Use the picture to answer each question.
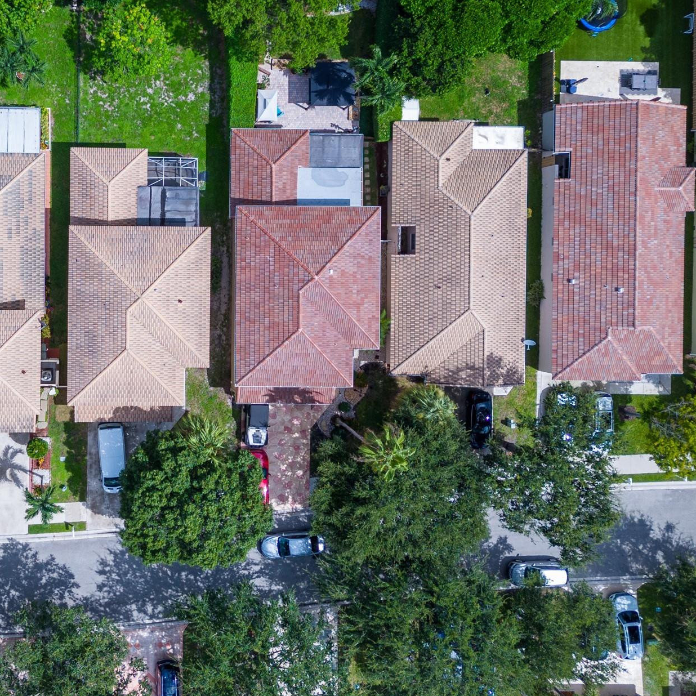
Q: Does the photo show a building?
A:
Yes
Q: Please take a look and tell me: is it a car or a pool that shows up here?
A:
car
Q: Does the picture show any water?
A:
No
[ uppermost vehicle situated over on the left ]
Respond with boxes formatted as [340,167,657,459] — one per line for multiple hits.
[240,405,270,450]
